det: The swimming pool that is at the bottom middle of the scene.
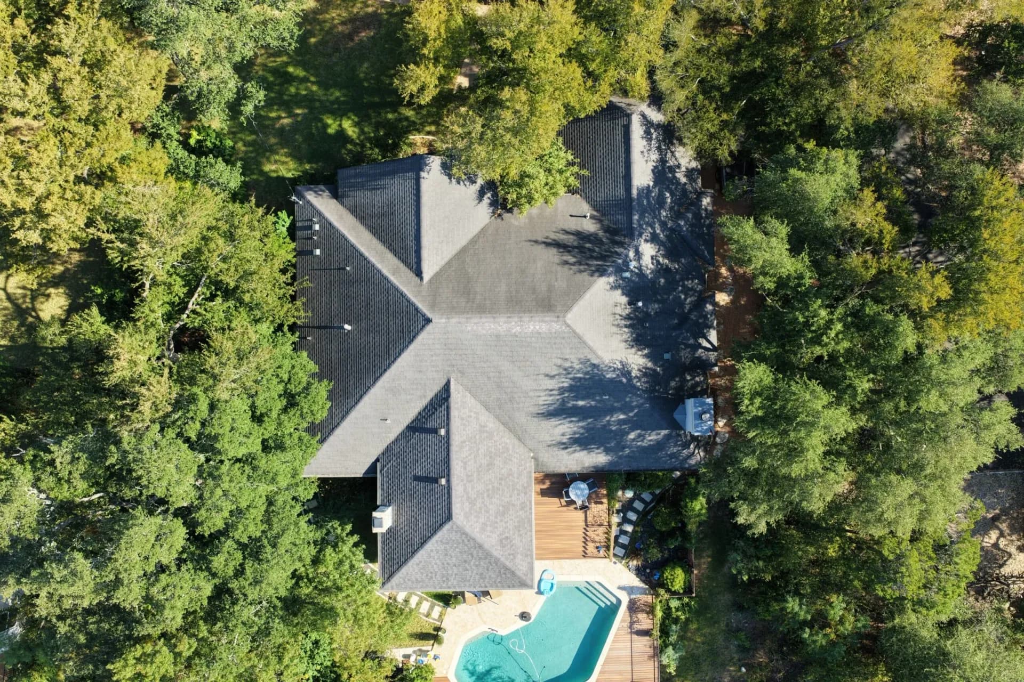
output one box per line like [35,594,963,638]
[449,576,628,682]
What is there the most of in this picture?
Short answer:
trees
